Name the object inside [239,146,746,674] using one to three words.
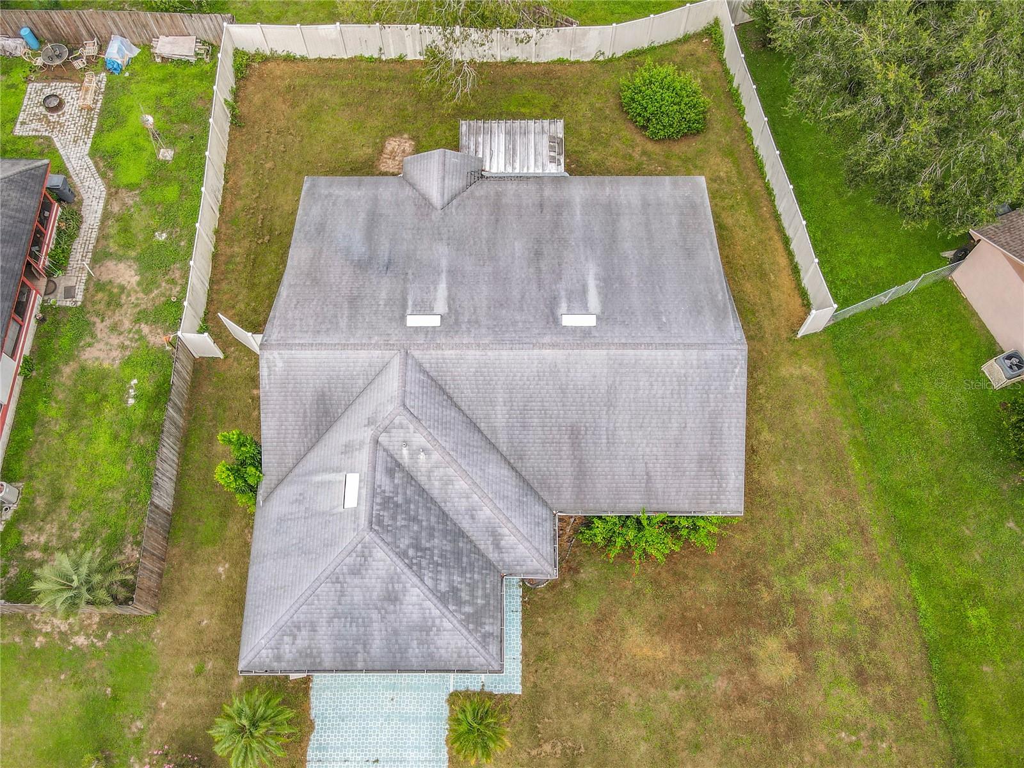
house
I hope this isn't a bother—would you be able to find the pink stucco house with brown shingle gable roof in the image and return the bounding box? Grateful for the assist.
[948,211,1024,359]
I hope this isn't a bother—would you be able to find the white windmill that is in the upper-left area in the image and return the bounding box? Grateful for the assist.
[143,112,172,159]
